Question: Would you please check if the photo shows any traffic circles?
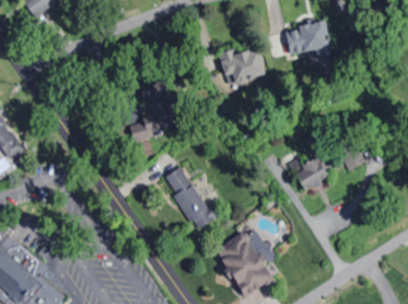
No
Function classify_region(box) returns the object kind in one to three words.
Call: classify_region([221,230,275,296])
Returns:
house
